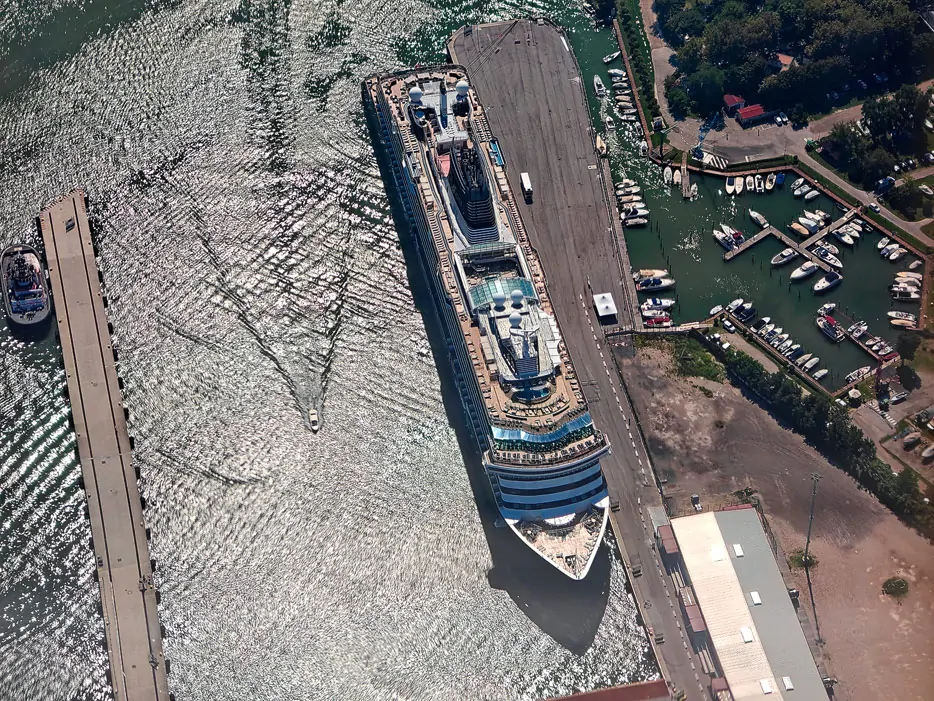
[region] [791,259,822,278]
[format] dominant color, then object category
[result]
white boat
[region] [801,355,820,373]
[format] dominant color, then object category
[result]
white boat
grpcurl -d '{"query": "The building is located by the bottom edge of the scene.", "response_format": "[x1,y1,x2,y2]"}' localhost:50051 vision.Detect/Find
[671,504,830,701]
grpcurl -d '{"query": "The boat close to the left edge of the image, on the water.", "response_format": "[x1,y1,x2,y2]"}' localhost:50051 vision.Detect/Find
[0,243,51,325]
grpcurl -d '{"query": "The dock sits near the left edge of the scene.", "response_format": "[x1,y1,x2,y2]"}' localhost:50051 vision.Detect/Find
[38,190,173,701]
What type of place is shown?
port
